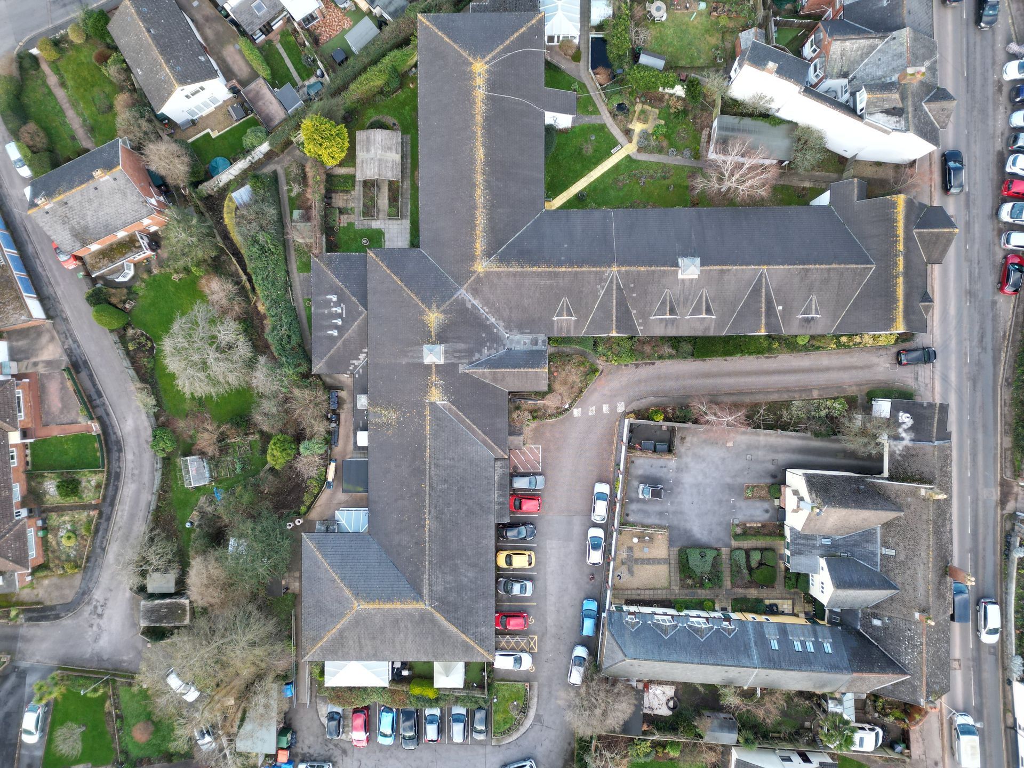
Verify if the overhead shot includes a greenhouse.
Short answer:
Yes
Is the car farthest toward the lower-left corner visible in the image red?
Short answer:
No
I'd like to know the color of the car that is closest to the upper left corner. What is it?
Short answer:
white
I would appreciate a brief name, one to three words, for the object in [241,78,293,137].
building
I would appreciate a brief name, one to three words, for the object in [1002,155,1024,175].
car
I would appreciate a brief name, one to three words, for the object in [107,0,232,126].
house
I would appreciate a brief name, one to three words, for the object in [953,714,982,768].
van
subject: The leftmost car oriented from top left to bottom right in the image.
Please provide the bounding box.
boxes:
[5,141,37,180]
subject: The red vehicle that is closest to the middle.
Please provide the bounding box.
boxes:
[510,494,542,513]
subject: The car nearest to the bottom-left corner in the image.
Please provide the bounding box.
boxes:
[21,702,47,742]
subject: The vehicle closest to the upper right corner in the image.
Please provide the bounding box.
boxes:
[975,0,999,32]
